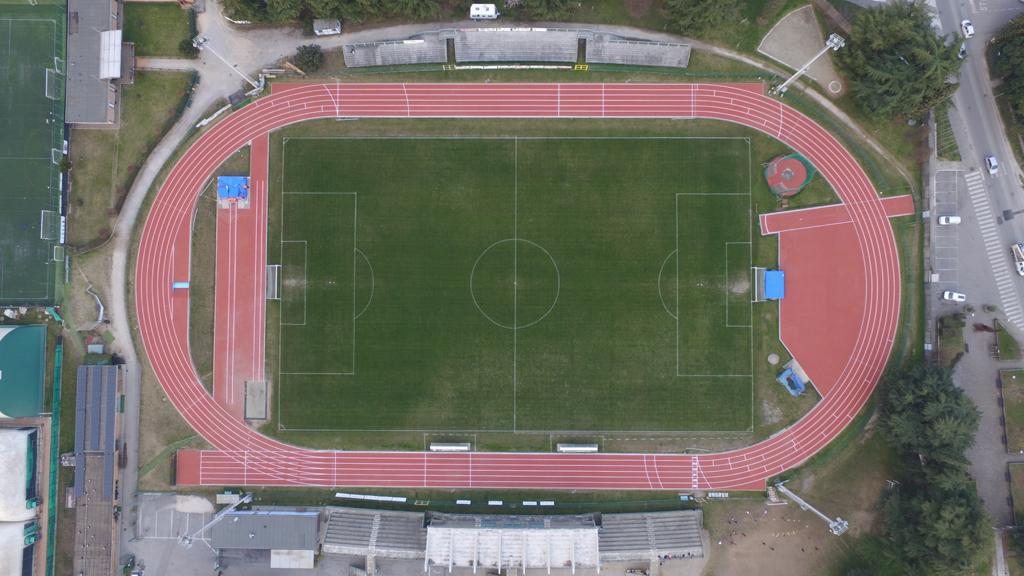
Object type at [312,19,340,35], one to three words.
vehicle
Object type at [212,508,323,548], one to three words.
building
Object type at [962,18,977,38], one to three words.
car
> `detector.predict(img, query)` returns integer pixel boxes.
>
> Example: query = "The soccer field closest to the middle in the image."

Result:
[278,137,754,452]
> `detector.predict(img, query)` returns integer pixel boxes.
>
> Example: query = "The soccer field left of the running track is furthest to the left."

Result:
[0,8,69,305]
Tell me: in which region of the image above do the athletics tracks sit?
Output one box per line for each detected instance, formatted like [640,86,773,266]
[135,83,901,491]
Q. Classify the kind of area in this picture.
sports ground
